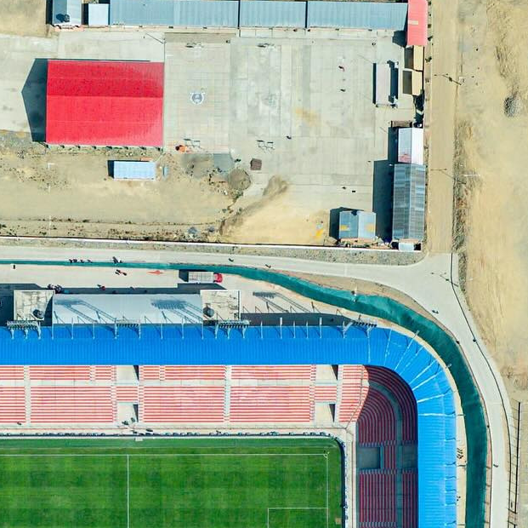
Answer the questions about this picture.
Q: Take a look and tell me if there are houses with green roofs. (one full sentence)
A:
No, no house with a green roof can be seen from above.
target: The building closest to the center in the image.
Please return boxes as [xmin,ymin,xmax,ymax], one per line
[338,210,376,243]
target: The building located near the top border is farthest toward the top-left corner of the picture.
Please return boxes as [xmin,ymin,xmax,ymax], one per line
[53,0,81,32]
